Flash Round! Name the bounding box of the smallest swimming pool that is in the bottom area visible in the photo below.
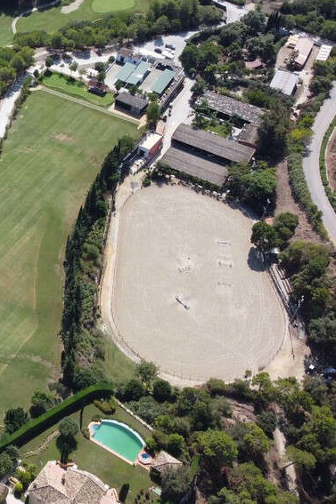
[137,450,152,463]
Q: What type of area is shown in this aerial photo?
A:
sports ground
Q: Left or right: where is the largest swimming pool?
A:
left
